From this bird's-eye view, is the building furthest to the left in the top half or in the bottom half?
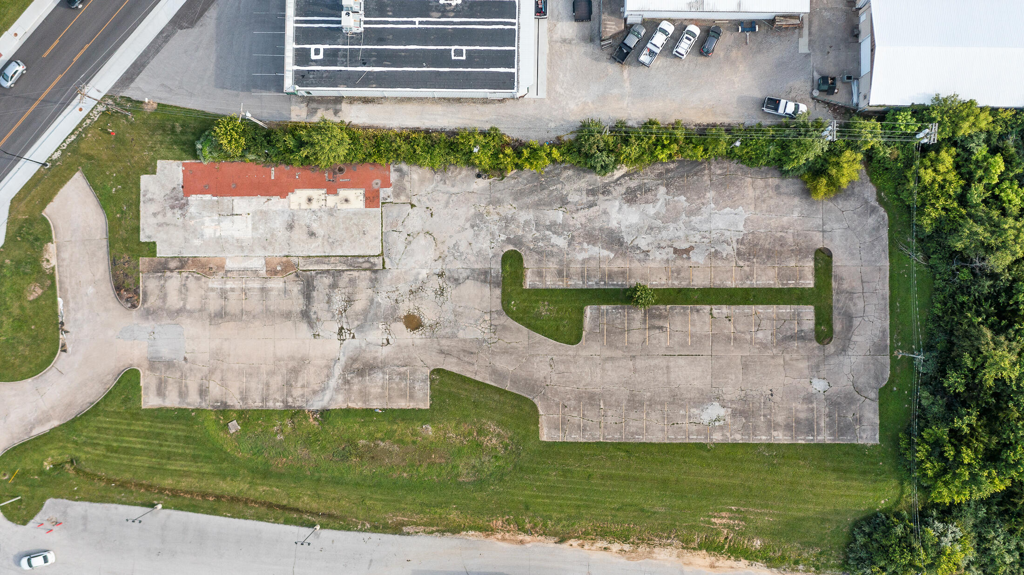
top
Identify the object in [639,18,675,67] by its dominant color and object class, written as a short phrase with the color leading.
white truck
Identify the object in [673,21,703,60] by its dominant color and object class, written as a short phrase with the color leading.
white car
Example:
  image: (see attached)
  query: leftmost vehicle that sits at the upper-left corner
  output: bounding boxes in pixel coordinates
[0,58,26,88]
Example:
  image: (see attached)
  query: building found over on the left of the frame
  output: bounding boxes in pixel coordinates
[284,0,535,102]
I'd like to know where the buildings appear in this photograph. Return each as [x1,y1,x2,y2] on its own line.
[284,0,535,102]
[859,0,1024,115]
[624,0,810,19]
